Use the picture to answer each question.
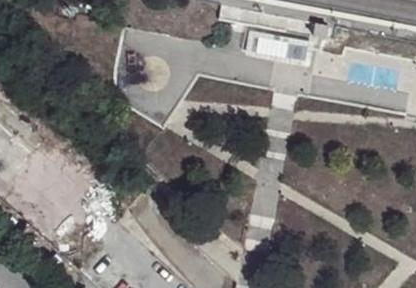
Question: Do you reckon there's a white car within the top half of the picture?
No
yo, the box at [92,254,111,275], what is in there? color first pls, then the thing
white car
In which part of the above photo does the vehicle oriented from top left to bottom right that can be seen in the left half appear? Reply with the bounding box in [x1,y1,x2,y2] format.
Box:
[152,262,174,282]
